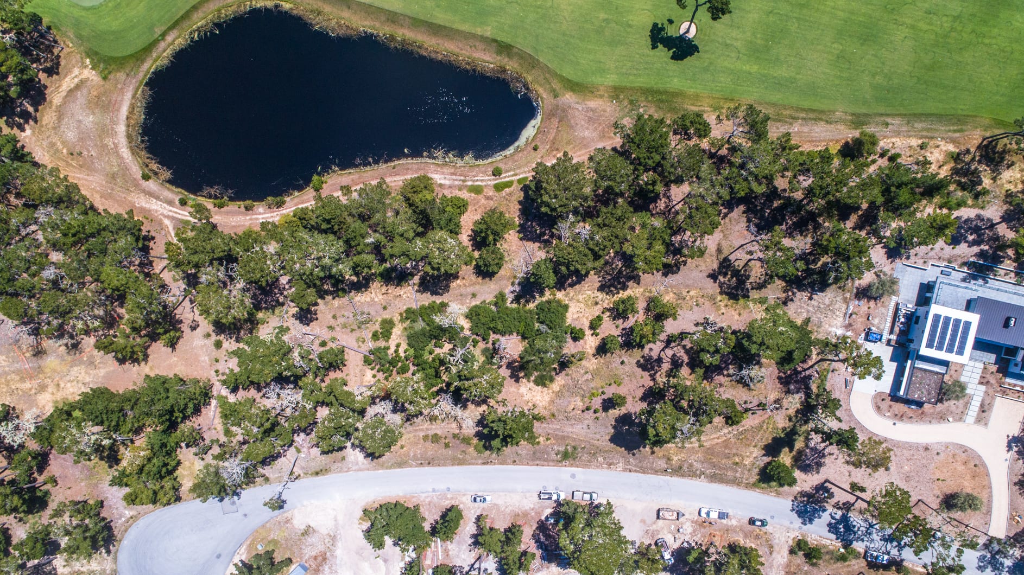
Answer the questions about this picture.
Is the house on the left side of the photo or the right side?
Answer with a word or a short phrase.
right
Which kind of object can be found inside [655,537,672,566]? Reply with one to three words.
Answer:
vehicle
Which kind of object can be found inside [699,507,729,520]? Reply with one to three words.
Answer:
vehicle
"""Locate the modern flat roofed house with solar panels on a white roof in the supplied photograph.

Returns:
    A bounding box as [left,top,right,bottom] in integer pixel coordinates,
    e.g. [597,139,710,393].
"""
[890,277,1024,410]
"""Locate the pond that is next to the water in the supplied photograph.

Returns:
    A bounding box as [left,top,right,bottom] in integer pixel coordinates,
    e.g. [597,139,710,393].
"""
[142,7,542,202]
